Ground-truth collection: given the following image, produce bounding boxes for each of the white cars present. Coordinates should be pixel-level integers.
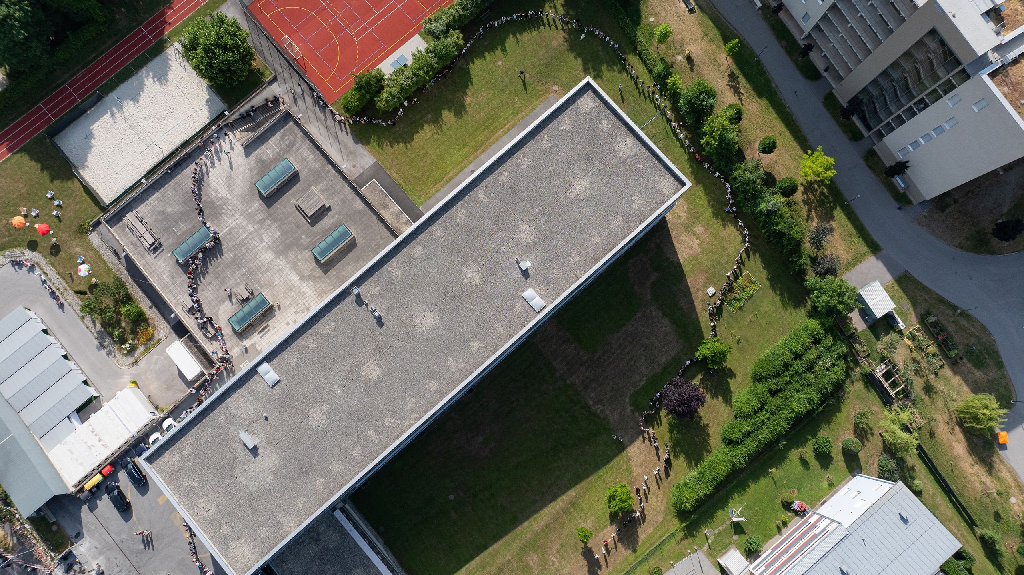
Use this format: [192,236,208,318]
[151,433,165,445]
[165,418,179,433]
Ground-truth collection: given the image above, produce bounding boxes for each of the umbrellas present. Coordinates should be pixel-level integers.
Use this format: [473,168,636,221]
[14,216,29,229]
[79,264,94,277]
[39,224,54,236]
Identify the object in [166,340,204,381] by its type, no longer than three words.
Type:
shipping container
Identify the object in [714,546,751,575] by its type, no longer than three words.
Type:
shed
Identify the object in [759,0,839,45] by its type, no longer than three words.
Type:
building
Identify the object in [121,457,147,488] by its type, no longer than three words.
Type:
car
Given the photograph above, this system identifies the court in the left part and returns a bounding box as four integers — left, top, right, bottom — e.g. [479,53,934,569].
[253,0,439,104]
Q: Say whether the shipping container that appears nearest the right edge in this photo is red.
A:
No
